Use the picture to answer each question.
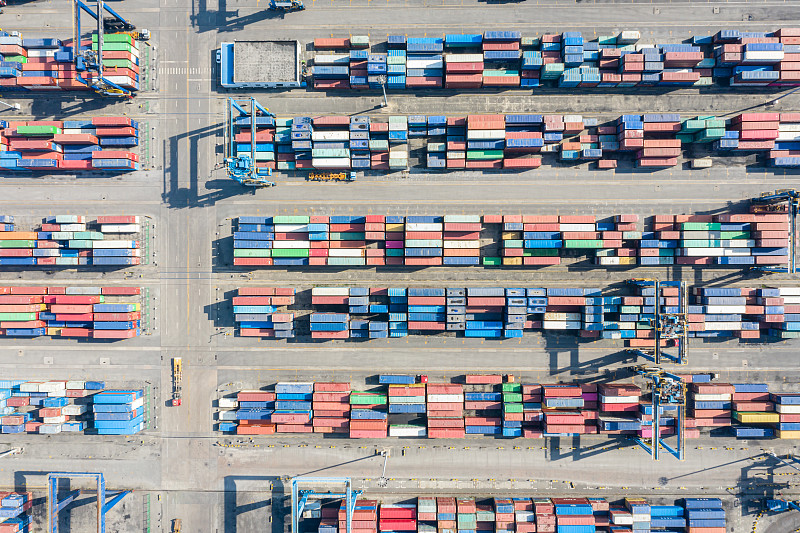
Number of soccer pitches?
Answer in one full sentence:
Not a single soccer pitch can be seen.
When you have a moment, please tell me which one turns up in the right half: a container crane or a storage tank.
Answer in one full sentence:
The feature located in the right half is a container crane.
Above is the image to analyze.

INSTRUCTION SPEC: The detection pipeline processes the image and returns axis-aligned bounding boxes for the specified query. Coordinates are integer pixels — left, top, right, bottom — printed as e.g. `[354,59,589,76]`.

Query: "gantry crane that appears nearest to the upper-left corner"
[55,0,140,99]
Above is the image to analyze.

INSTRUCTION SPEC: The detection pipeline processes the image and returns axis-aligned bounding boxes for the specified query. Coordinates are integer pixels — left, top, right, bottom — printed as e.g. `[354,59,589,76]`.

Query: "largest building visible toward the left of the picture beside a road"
[220,40,302,90]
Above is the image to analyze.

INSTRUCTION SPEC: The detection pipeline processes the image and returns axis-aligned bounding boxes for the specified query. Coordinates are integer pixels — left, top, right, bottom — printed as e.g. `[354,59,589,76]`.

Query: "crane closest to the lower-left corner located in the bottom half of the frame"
[44,470,137,533]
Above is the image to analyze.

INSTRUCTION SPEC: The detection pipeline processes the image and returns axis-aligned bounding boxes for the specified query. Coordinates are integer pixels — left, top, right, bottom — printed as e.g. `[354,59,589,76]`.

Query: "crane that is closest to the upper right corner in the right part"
[745,184,800,274]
